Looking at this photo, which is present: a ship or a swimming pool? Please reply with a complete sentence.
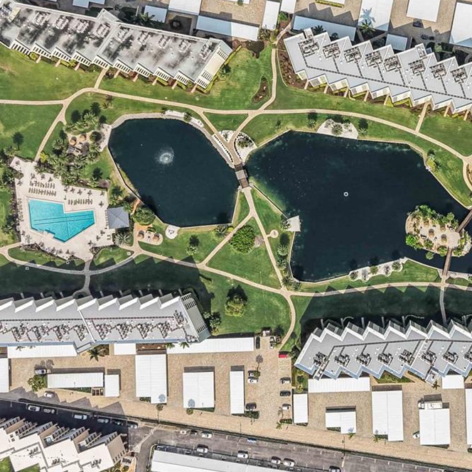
It is a swimming pool that can be seen here.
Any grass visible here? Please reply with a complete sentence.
Yes, there's grass in this view.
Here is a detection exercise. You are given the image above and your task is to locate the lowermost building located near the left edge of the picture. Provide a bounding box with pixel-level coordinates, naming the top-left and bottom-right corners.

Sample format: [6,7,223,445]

[0,411,130,472]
